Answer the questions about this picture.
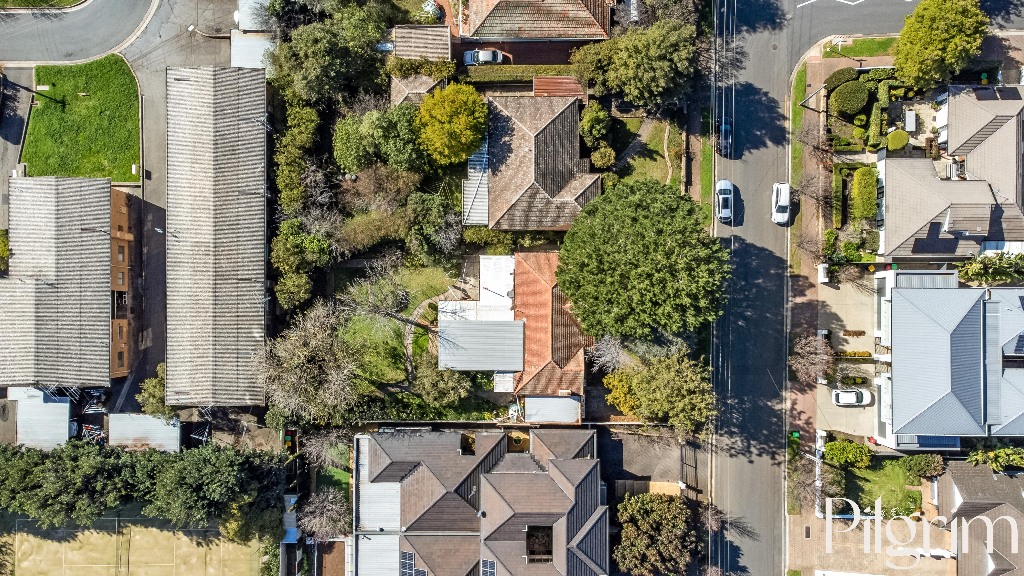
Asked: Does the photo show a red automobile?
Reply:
No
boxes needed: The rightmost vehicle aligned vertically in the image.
[769,182,790,225]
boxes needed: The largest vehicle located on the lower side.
[830,388,870,407]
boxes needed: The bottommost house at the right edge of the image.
[929,459,1024,576]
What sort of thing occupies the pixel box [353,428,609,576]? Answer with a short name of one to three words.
house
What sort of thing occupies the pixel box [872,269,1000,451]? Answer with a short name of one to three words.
house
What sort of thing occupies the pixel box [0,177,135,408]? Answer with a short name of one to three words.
building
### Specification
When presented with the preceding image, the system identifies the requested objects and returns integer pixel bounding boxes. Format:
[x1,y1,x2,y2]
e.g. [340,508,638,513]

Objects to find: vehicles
[463,48,503,66]
[830,388,870,407]
[714,180,734,224]
[769,182,790,225]
[715,117,735,159]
